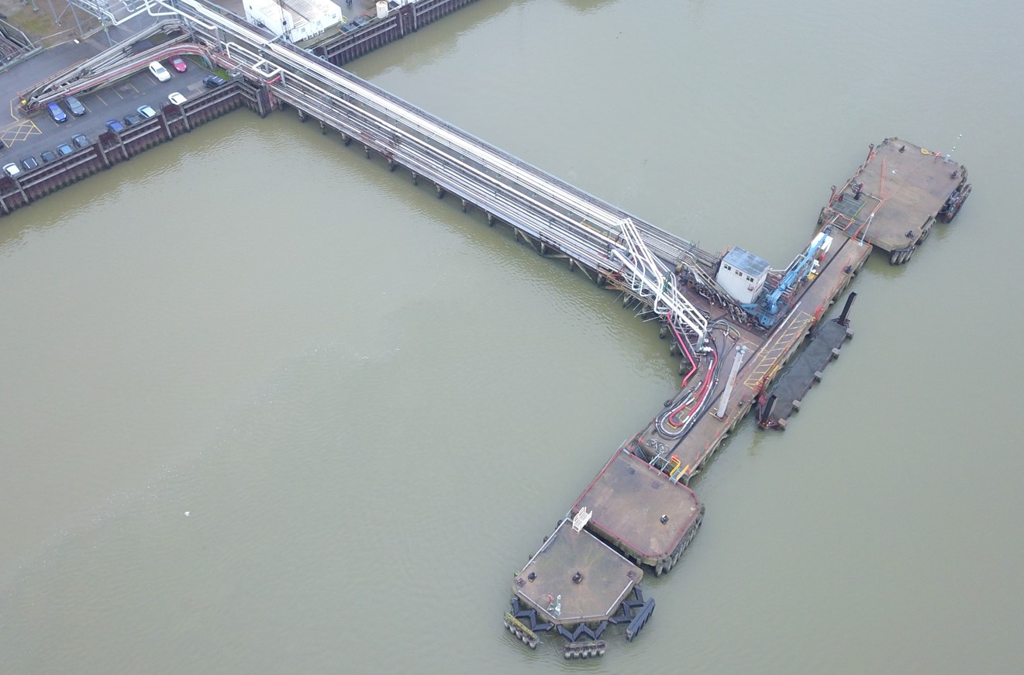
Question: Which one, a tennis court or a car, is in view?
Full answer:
Of the two, only a car appears.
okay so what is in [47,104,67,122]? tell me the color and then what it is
blue car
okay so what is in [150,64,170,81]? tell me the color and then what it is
white car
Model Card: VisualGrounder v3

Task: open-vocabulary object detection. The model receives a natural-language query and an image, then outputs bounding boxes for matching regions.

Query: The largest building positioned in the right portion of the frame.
[717,246,772,302]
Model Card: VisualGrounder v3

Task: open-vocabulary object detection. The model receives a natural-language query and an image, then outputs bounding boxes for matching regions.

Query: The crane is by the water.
[741,226,833,330]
